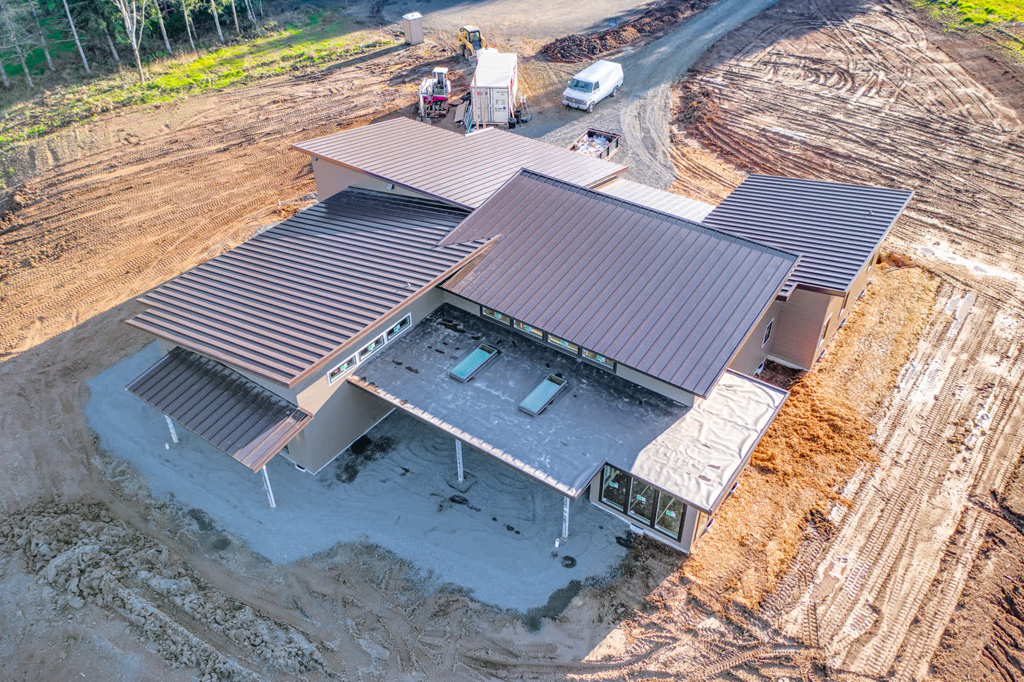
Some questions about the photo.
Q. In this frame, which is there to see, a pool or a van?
van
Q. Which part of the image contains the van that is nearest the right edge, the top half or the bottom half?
top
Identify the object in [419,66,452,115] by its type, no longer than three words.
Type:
work vehicle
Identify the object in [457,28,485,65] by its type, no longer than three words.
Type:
work vehicle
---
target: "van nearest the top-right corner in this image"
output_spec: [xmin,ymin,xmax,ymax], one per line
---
[561,62,621,110]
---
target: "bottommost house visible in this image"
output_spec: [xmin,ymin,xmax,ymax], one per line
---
[120,117,915,552]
